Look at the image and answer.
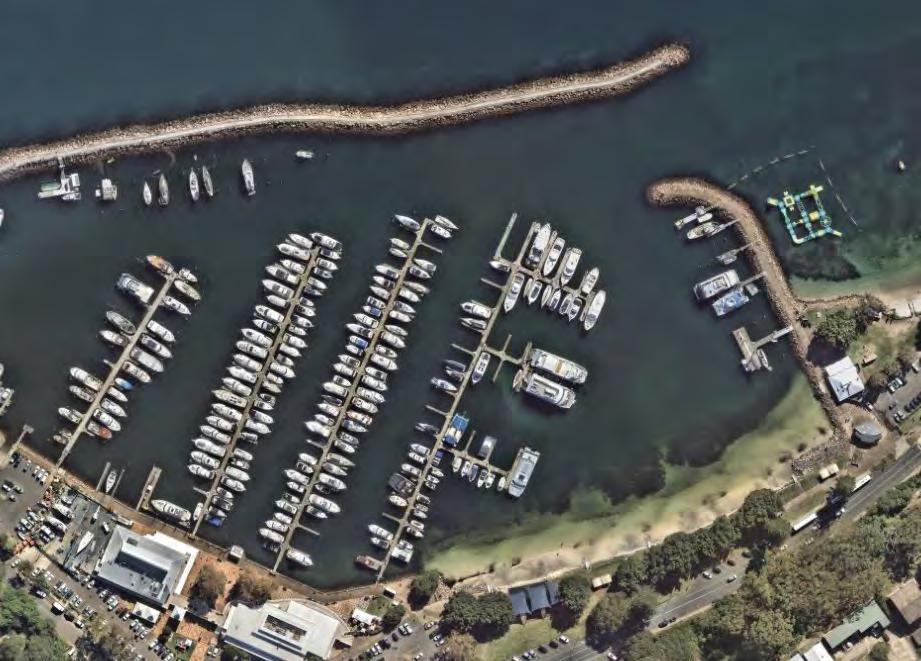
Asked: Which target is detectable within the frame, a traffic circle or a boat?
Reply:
boat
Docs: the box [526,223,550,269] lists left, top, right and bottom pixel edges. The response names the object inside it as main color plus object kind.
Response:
white boat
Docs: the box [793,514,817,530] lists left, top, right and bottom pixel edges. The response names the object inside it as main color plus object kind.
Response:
white vehicle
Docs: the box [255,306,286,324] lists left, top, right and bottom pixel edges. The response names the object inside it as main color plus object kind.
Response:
white boat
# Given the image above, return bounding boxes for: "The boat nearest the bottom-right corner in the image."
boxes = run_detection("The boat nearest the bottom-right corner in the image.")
[760,350,773,372]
